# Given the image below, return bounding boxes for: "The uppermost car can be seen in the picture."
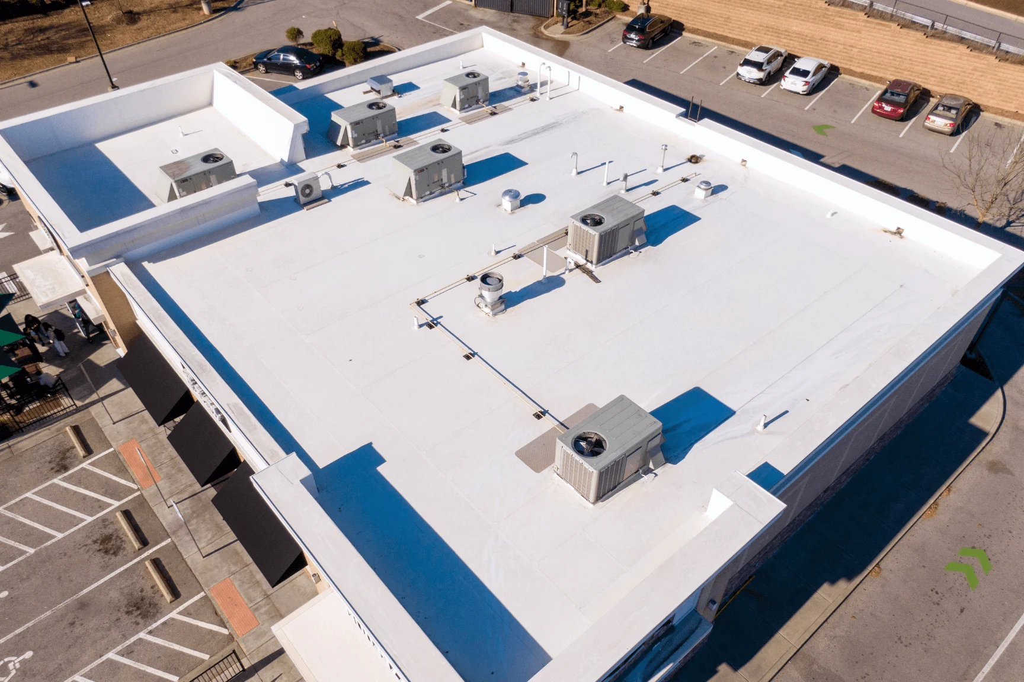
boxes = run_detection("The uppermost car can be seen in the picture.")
[629,9,679,46]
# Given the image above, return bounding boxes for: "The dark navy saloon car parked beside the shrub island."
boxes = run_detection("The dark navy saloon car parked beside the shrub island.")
[251,45,326,78]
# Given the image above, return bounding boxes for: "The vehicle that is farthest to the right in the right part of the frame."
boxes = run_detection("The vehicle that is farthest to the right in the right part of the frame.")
[926,87,979,129]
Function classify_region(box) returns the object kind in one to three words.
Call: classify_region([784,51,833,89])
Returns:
car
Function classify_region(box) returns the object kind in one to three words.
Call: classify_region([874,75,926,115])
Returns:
car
